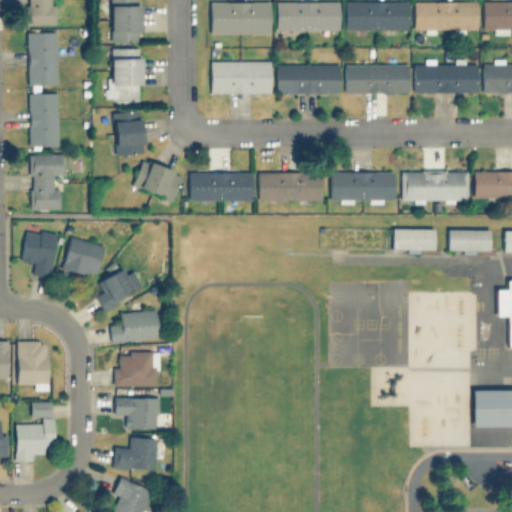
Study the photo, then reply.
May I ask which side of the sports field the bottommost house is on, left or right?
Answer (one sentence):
In the image, the bottommost house sits on the left side of the sports field.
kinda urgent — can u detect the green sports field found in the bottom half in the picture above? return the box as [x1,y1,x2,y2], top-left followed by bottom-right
[188,286,316,512]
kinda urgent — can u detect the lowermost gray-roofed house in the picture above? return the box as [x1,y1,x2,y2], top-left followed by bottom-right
[110,476,156,512]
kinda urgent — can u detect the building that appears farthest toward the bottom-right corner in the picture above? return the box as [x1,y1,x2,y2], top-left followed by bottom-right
[475,390,512,429]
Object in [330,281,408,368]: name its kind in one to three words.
sports court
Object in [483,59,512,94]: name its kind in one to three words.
house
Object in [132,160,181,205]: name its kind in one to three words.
house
